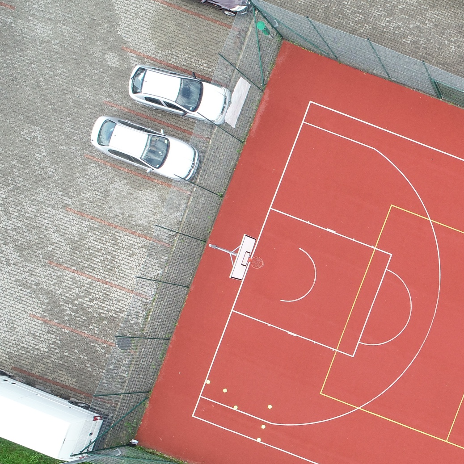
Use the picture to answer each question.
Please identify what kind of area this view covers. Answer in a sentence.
It's a sports ground.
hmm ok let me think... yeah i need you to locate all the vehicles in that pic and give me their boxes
[0,374,109,460]
[198,0,253,19]
[88,112,199,182]
[127,66,229,126]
